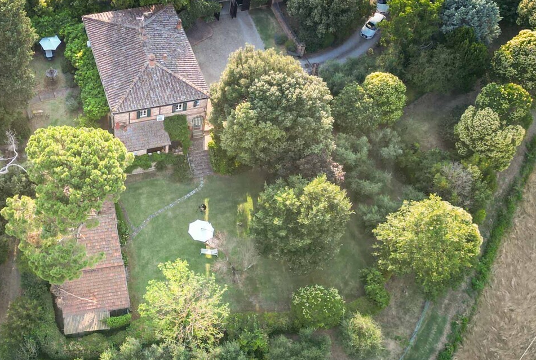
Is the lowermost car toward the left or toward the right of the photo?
right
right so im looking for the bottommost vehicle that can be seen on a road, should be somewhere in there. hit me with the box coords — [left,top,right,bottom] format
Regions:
[362,13,383,40]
